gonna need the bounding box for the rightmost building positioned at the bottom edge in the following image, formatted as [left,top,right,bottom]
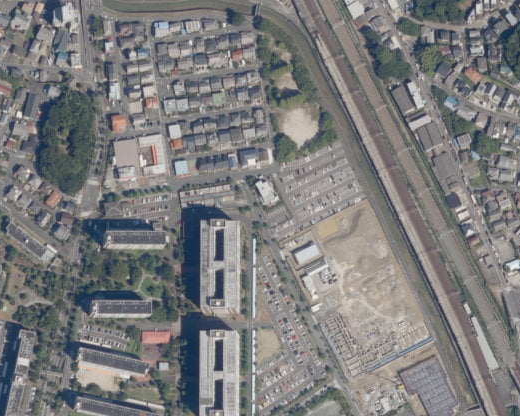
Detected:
[199,330,242,416]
